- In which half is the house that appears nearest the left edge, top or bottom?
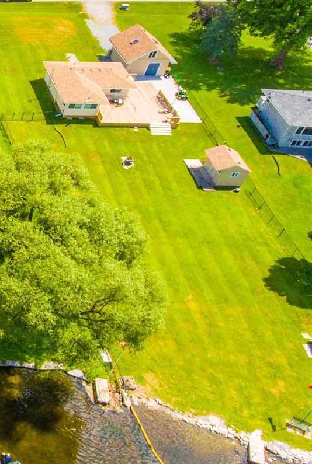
top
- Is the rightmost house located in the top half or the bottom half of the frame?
top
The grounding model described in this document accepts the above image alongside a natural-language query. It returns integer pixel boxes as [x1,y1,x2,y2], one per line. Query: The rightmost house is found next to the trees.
[235,83,312,158]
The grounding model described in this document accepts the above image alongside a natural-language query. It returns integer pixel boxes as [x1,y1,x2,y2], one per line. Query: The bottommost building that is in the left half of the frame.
[40,57,145,121]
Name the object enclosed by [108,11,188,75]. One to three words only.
building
